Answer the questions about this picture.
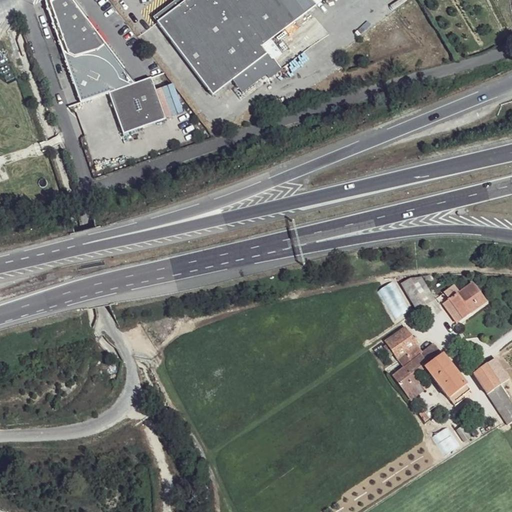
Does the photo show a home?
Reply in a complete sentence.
Yes, there is a home in the image.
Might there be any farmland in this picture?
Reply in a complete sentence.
Yes, there is farmland in the image.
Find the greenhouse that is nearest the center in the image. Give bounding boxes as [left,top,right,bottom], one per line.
[378,281,409,320]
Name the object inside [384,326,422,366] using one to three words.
barn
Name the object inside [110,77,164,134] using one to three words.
building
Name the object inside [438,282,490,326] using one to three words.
house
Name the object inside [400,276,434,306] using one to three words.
shed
